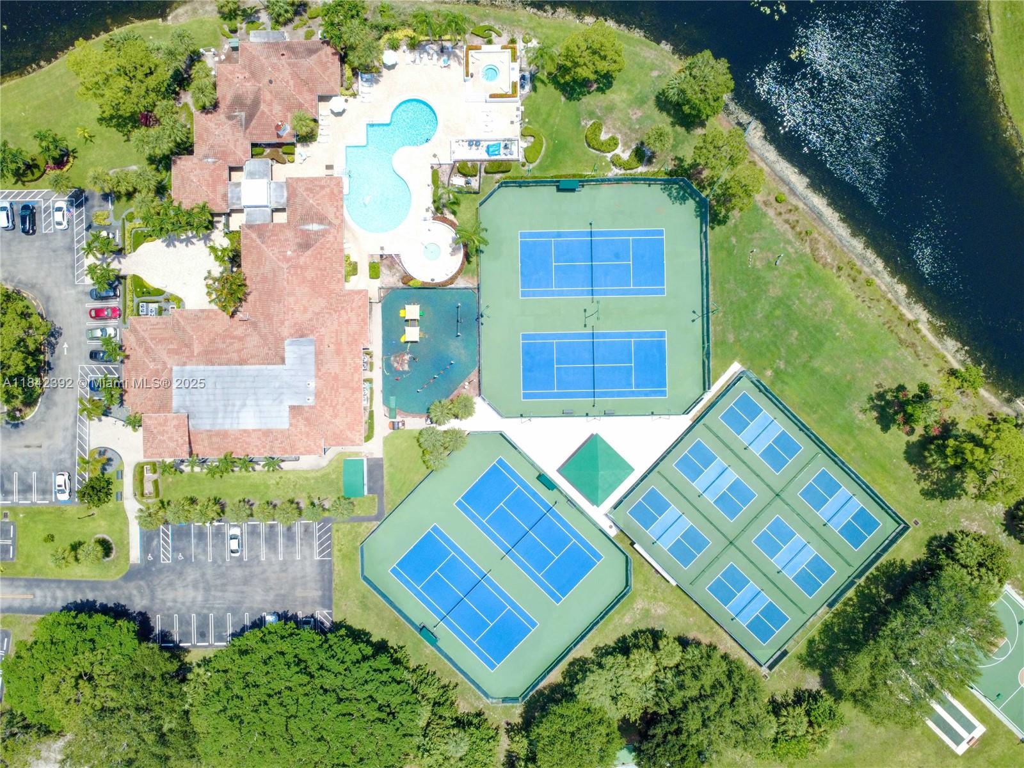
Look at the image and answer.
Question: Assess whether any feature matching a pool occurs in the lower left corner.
No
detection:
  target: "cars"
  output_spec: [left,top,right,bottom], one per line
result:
[90,306,122,320]
[227,526,242,555]
[53,201,70,230]
[302,616,315,646]
[88,350,117,361]
[0,201,16,232]
[55,472,71,501]
[87,378,117,391]
[86,326,118,340]
[19,205,37,234]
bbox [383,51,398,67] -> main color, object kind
white umbrella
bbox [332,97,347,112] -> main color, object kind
white umbrella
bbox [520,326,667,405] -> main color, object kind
blue tennis court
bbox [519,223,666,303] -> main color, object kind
blue tennis court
